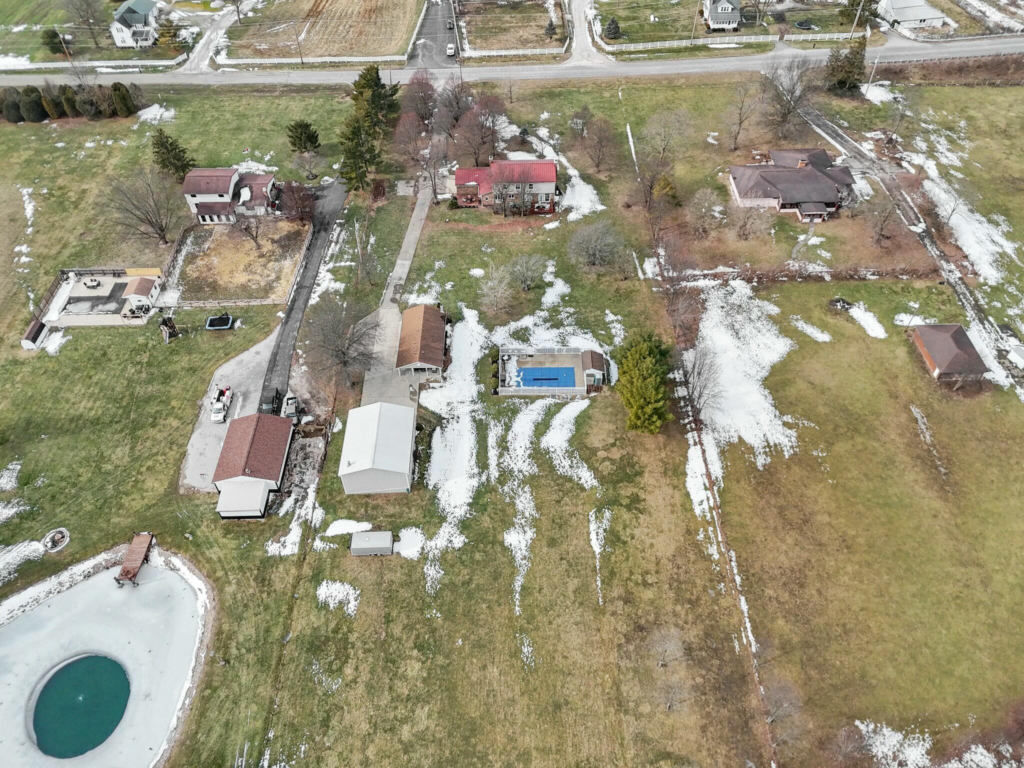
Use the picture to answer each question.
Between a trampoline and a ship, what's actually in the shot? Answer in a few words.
trampoline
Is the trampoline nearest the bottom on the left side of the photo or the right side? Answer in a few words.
left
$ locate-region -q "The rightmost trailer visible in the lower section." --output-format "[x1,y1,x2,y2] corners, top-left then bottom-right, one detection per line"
[343,529,394,554]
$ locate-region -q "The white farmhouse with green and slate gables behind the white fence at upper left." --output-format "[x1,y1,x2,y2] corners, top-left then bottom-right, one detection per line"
[109,0,191,47]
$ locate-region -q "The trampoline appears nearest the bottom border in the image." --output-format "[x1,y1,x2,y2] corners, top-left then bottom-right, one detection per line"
[197,303,234,330]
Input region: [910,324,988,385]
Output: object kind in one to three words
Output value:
building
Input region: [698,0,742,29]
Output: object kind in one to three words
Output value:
house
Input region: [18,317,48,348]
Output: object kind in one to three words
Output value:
shed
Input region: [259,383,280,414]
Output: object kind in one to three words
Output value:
truck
